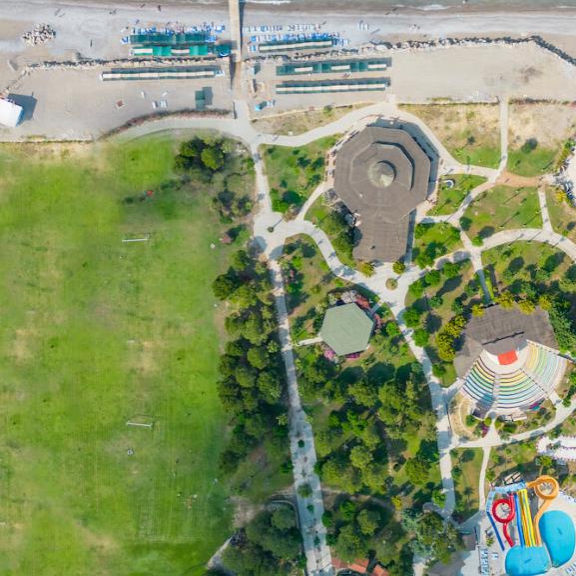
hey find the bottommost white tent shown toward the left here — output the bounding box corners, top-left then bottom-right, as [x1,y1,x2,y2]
[0,99,29,130]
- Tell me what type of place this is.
sports ground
